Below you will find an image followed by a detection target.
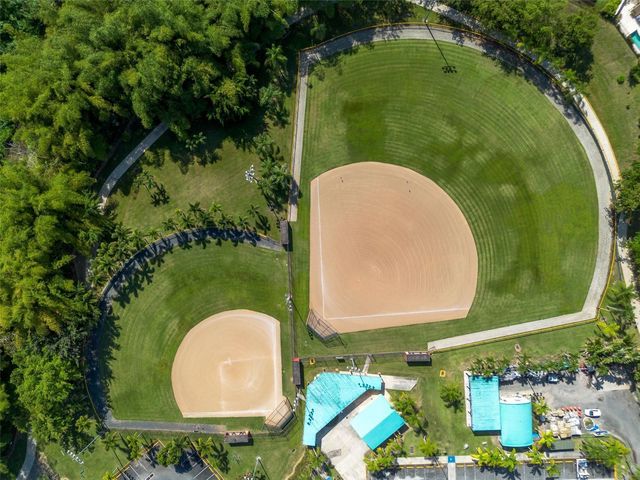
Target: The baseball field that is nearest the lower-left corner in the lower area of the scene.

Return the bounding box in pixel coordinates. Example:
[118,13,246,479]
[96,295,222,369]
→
[88,229,297,434]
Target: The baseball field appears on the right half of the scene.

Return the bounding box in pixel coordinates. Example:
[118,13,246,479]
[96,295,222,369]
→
[289,25,612,358]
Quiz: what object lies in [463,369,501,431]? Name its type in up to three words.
building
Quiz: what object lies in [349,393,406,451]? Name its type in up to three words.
building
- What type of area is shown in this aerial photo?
sports ground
